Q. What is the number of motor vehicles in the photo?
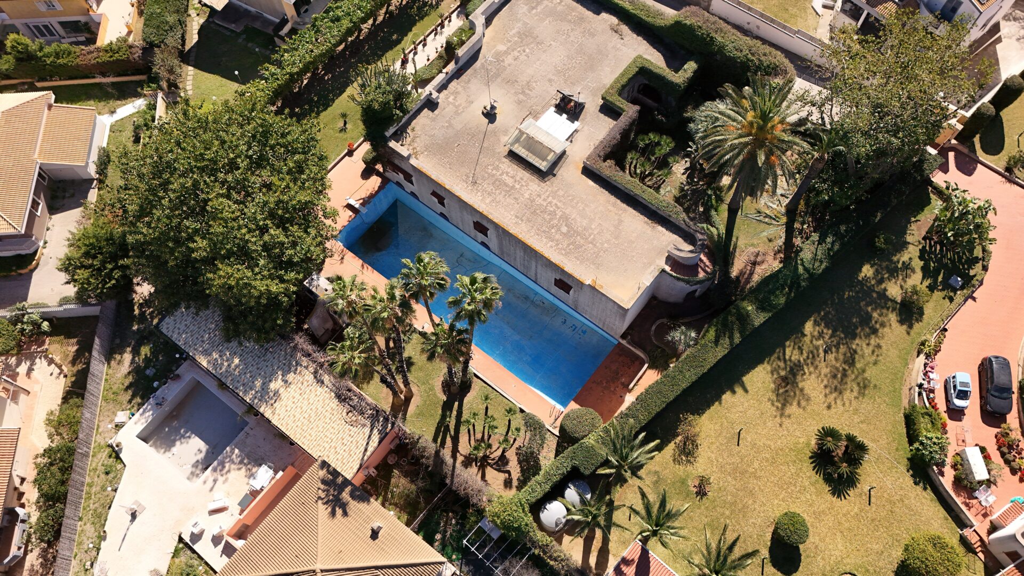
2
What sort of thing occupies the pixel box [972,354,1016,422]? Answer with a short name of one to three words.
car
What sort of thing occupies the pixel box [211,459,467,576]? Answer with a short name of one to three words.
house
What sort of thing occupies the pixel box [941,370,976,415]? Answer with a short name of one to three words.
car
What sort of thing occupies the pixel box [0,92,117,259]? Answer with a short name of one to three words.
house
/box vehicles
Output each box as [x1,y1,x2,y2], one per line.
[972,354,1016,422]
[941,370,976,415]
